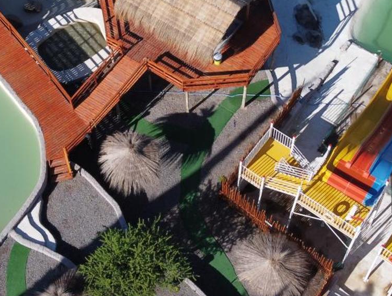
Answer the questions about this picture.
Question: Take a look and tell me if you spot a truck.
No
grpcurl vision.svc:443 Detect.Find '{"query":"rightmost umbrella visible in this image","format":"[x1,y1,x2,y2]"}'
[228,233,309,296]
